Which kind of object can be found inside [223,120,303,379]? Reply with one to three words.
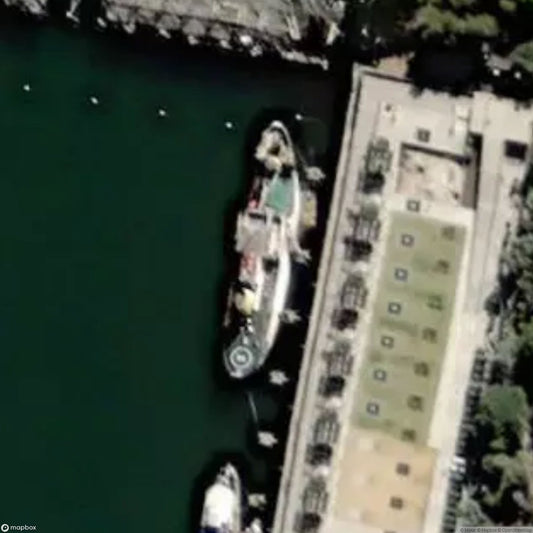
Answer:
ship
